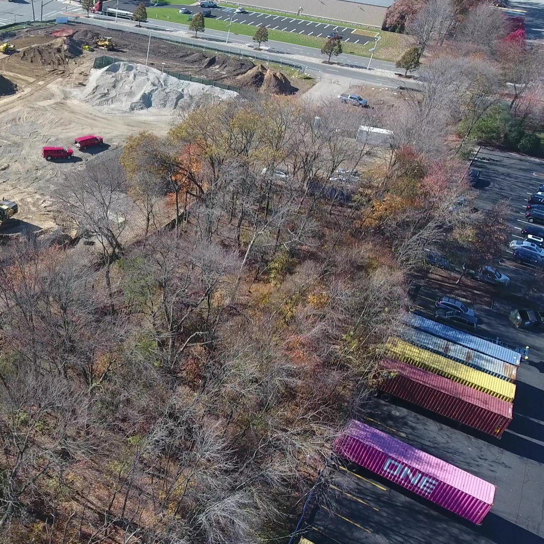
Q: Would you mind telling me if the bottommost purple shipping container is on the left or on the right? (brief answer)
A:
right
